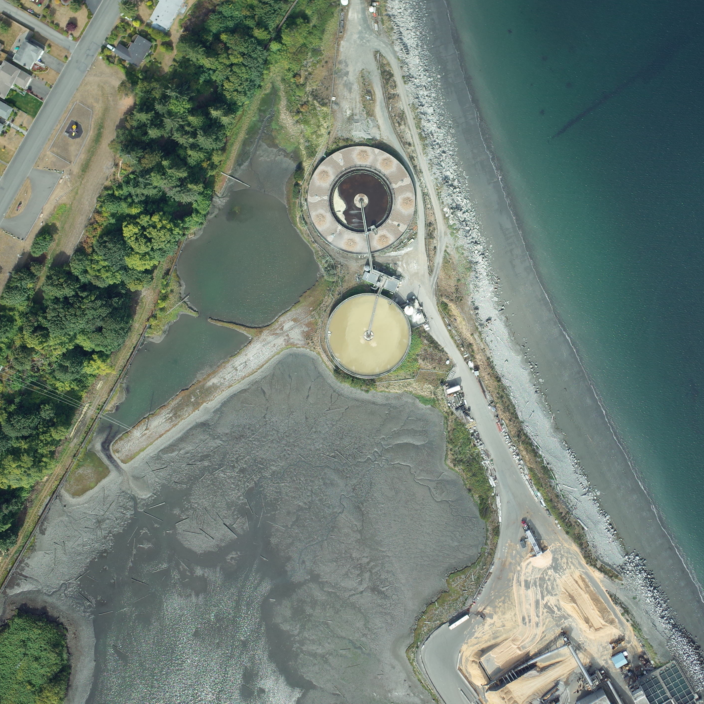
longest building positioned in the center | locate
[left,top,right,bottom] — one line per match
[356,269,400,293]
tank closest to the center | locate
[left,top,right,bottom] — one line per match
[326,287,411,378]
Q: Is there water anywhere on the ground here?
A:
Yes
